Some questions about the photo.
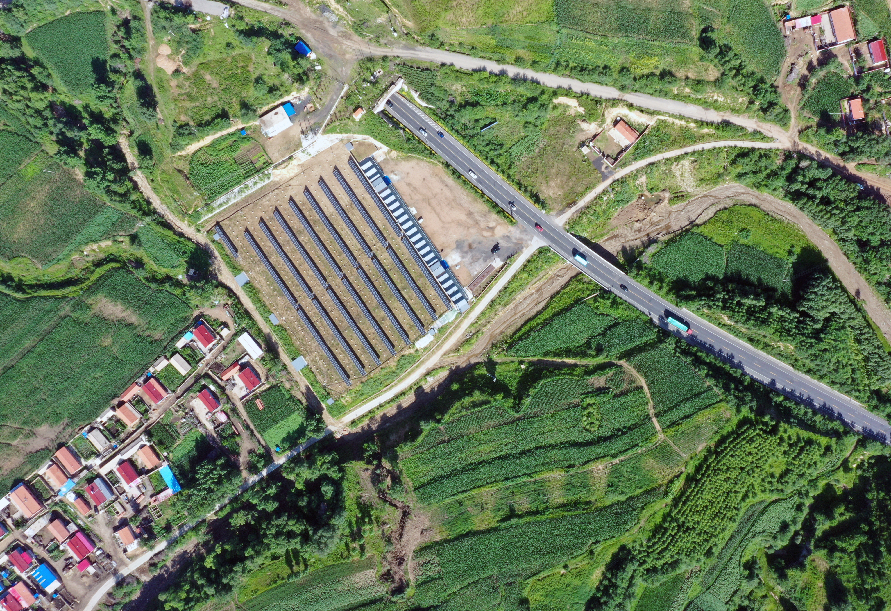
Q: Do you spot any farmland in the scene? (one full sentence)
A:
Yes, there's farmland in this view.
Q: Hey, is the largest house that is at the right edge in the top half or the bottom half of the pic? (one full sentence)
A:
Seen from above, the largest house that is at the right edge lies in the top half of the view.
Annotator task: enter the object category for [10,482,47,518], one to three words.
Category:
house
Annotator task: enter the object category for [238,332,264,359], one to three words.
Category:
barn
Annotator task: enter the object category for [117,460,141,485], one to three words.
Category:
house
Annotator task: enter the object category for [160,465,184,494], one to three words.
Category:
barn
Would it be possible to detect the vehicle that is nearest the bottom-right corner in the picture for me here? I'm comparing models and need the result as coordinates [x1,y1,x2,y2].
[665,316,691,334]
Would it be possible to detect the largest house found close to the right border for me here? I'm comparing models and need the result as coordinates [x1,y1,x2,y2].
[826,9,855,45]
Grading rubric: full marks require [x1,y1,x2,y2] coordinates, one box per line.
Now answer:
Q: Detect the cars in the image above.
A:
[468,170,477,178]
[535,225,544,233]
[437,131,446,138]
[385,99,394,108]
[419,127,428,136]
[509,203,519,211]
[620,284,629,292]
